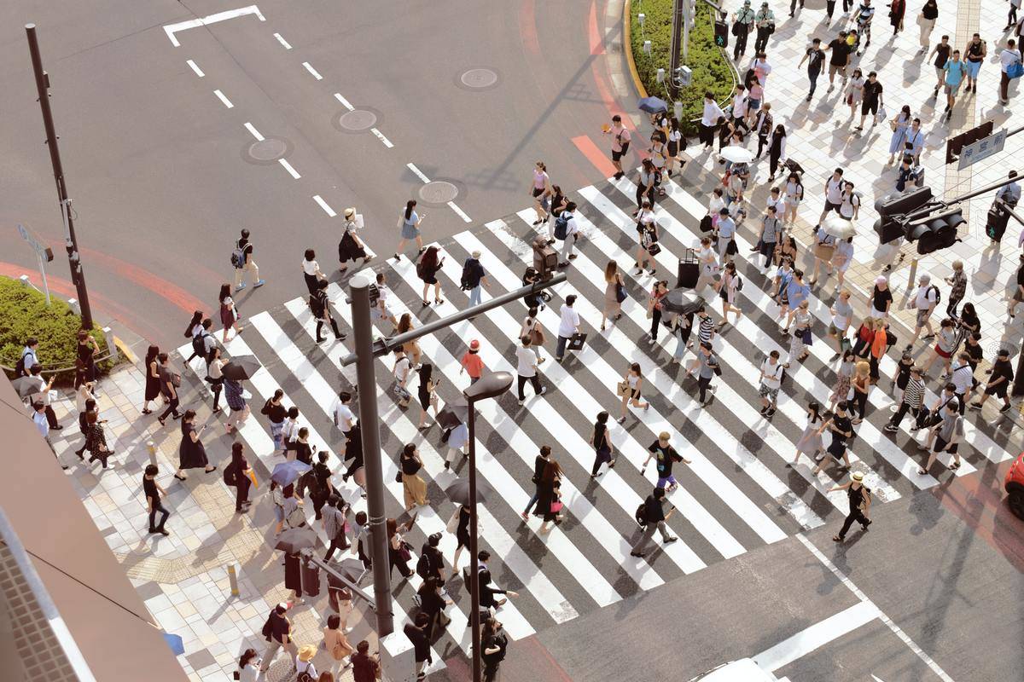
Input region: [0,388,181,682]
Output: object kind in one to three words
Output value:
building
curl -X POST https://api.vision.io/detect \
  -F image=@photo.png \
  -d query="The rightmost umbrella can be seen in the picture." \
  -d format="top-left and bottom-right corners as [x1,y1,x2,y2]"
[819,224,857,253]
